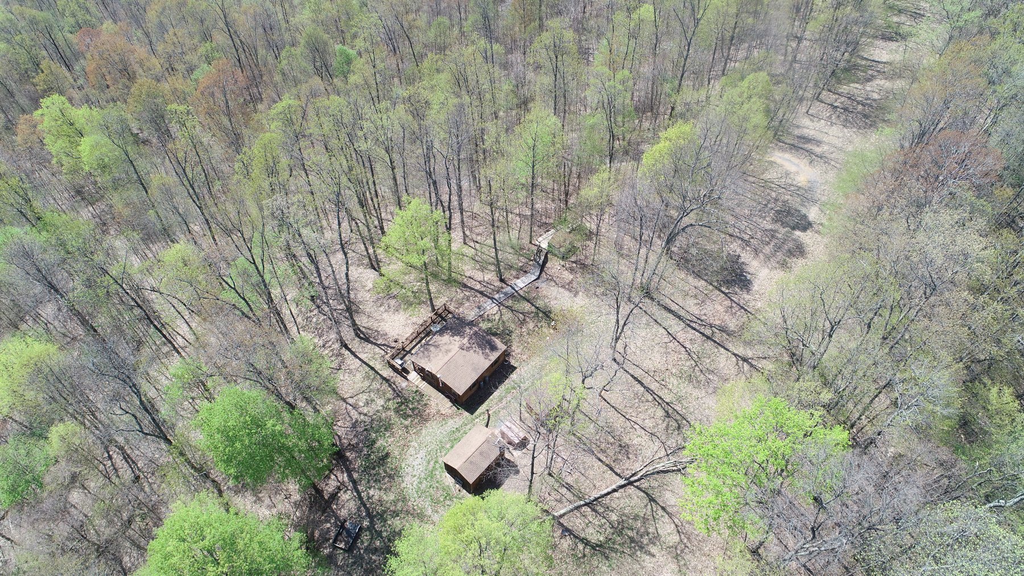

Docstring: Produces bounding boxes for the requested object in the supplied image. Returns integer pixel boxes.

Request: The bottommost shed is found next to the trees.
[442,425,505,490]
